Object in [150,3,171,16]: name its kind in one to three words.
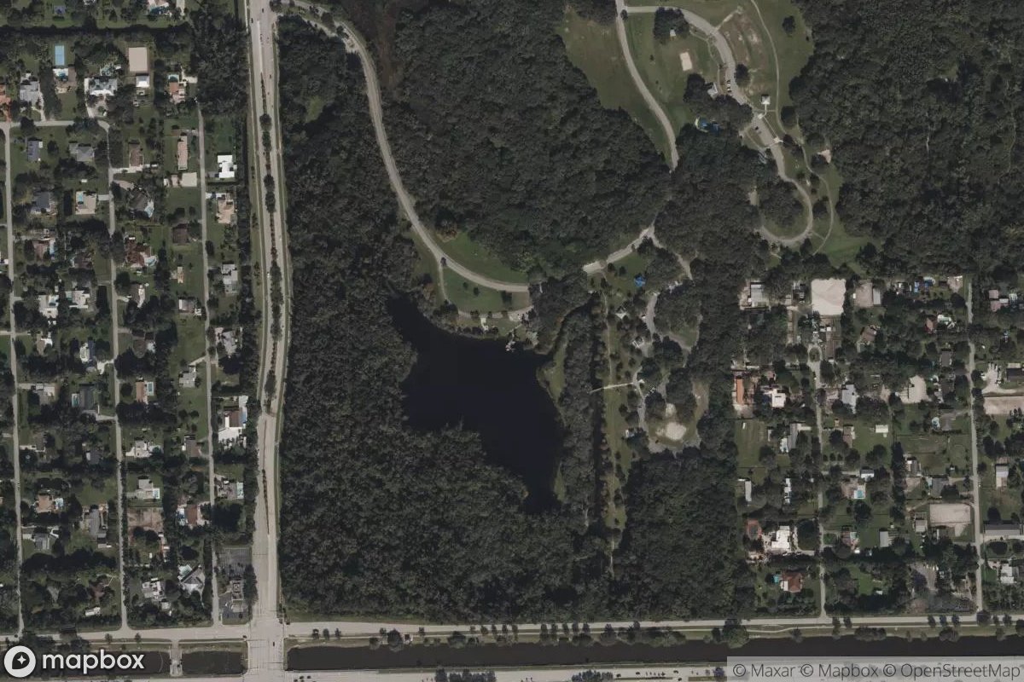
swimming pool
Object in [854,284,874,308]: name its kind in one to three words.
house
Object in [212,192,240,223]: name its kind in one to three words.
house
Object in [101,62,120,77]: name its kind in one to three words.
swimming pool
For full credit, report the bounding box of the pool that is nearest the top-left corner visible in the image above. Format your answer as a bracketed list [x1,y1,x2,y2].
[53,68,68,81]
